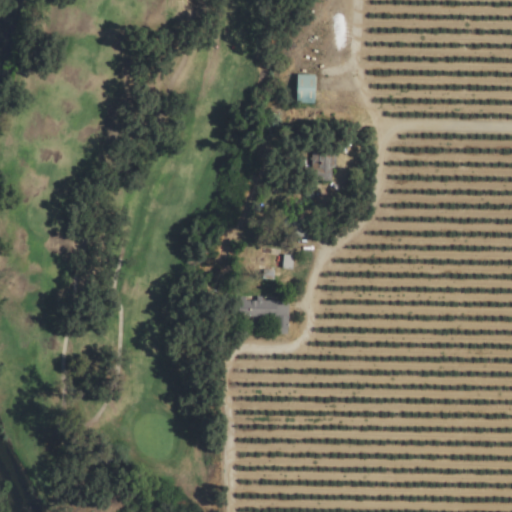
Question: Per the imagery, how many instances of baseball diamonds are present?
0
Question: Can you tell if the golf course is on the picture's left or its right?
left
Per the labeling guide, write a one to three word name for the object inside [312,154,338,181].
house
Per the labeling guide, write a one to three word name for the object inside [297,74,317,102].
barn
